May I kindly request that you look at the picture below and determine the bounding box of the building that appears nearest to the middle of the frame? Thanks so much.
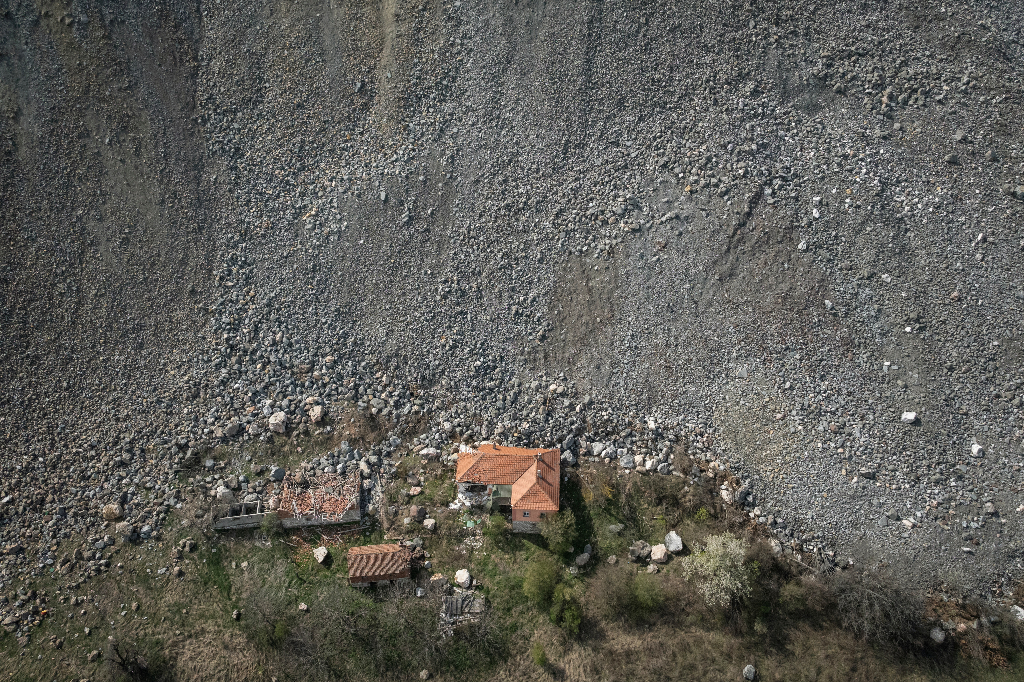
[453,443,564,534]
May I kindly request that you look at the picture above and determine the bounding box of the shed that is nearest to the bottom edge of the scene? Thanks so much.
[436,596,483,639]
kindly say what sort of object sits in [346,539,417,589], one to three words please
barn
